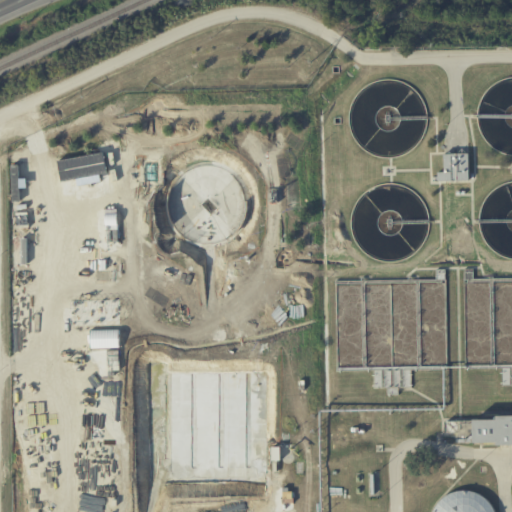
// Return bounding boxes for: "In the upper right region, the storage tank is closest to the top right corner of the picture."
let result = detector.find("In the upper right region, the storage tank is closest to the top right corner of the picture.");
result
[478,77,512,156]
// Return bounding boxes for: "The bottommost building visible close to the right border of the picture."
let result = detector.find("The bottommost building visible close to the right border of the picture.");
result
[472,416,512,446]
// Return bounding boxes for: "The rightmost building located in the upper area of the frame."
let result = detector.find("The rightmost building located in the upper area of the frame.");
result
[431,154,469,180]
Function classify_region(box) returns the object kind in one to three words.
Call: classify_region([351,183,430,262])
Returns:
storage tank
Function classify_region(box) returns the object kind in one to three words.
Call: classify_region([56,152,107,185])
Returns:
barn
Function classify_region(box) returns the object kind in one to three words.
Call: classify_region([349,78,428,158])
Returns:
storage tank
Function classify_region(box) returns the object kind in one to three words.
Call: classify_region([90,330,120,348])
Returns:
building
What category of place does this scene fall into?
industrial area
